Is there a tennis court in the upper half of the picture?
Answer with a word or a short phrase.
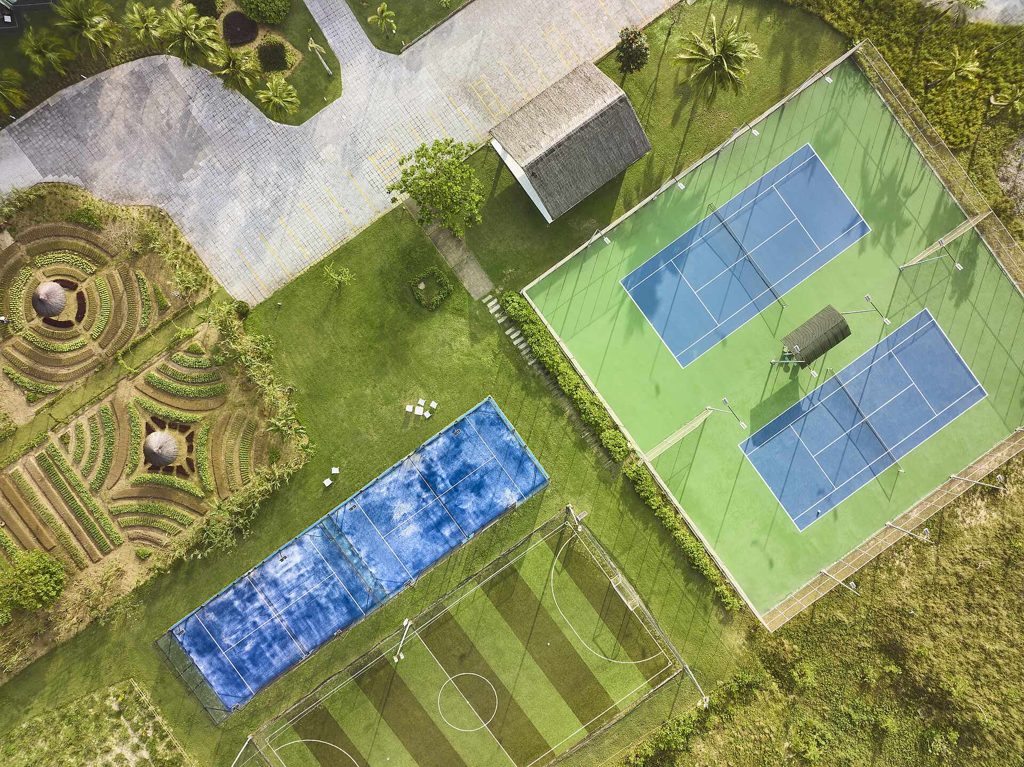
Yes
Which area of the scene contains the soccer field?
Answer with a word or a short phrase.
bottom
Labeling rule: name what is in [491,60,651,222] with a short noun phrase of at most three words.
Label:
building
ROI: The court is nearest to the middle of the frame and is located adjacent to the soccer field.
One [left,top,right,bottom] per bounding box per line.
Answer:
[324,396,551,603]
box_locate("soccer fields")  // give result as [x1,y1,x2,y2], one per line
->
[251,505,684,767]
